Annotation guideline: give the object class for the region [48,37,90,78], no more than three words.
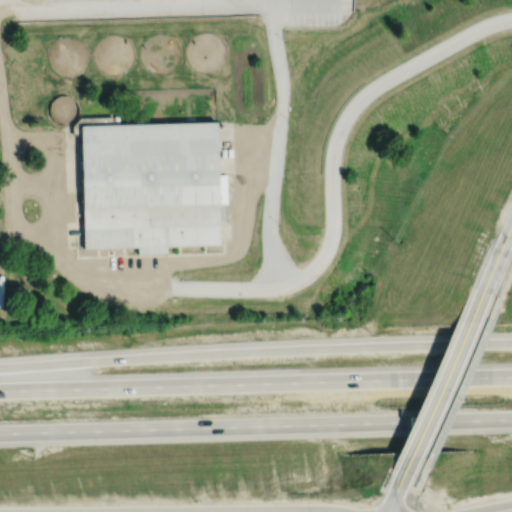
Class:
storage tank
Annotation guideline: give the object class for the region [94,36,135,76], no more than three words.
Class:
storage tank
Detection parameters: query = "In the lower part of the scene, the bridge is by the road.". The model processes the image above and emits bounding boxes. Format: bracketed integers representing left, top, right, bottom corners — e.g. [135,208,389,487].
[383,201,512,490]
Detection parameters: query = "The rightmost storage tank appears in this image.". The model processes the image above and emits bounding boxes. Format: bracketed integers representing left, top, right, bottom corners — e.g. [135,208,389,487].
[187,34,226,73]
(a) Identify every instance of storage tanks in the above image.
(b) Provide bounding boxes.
[48,37,90,78]
[94,36,135,76]
[50,94,79,123]
[187,34,226,73]
[141,35,180,74]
